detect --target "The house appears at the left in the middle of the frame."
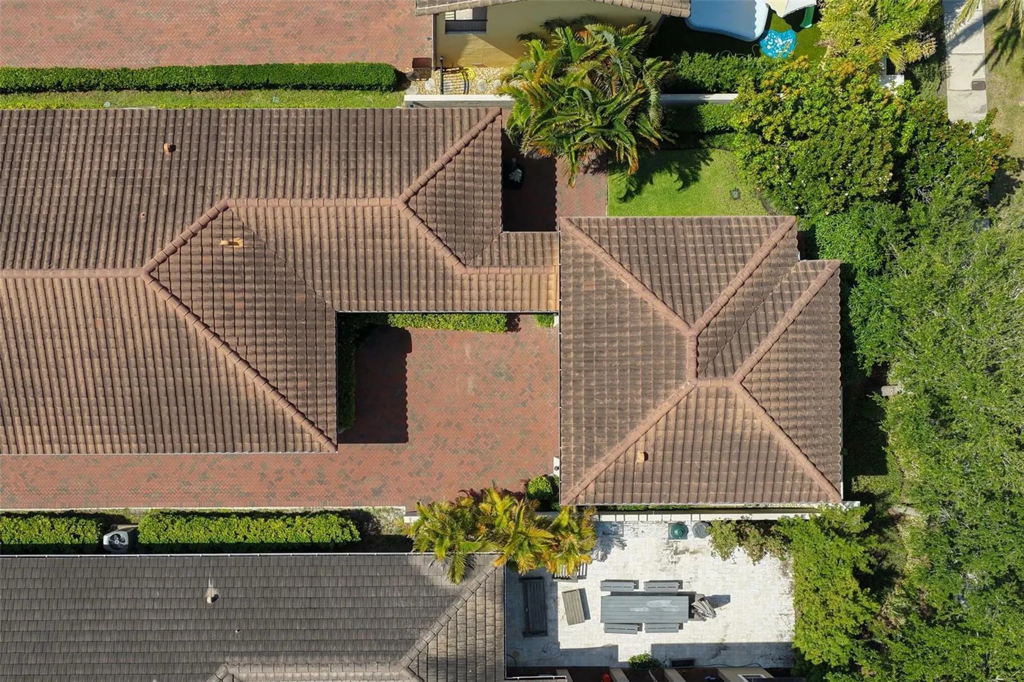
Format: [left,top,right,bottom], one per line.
[0,106,557,457]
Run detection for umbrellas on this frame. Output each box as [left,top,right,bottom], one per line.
[693,595,718,621]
